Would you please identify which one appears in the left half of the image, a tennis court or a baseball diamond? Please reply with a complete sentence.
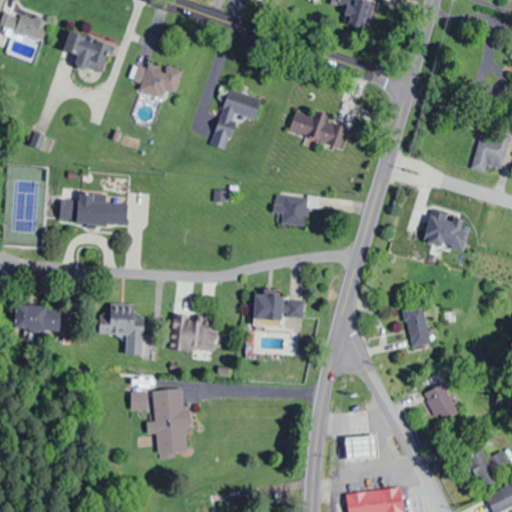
Visible in the left half of the image is a tennis court.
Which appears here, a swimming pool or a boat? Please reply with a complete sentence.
It is a swimming pool that can be seen here.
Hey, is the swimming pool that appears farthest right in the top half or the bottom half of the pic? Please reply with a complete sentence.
You can find the swimming pool that appears farthest right in the bottom half.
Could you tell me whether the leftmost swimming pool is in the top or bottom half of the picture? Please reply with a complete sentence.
Seen from above, the leftmost swimming pool lies in the top half of the view.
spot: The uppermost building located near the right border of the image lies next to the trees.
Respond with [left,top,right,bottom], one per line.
[471,138,512,172]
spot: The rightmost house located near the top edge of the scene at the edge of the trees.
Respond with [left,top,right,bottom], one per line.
[330,0,374,29]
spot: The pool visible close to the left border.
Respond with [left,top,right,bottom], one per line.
[3,26,42,64]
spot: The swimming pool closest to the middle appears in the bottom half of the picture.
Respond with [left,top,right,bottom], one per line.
[247,324,298,356]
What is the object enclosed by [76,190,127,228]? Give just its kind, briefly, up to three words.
house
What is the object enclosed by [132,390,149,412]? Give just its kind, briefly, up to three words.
building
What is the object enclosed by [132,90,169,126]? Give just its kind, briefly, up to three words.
swimming pool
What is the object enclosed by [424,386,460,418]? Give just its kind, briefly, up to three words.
house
